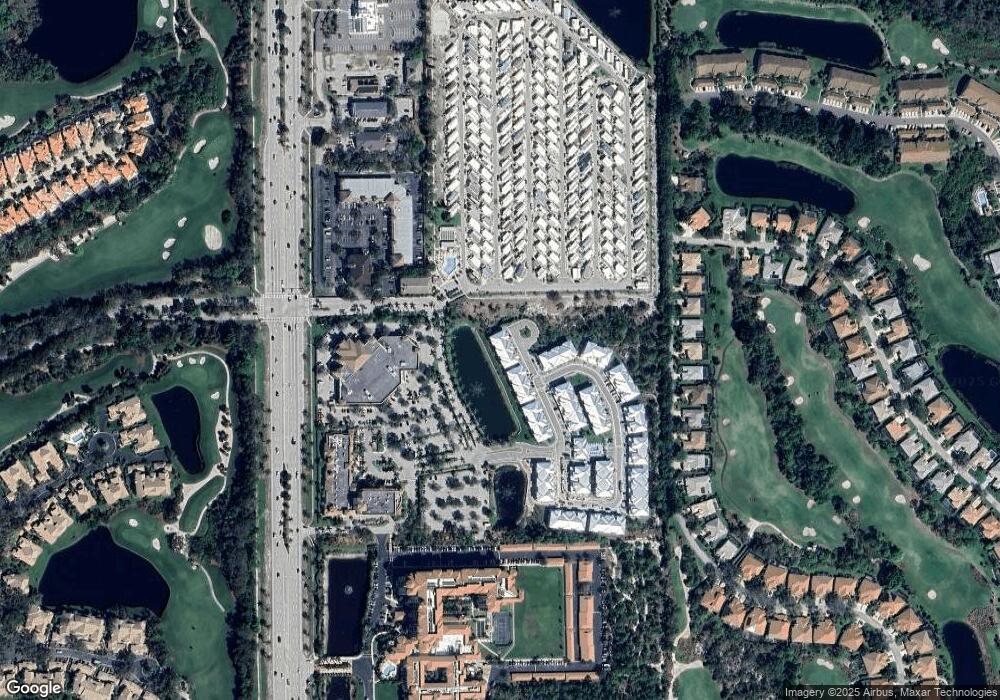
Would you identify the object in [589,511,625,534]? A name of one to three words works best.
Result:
building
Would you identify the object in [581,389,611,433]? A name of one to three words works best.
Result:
building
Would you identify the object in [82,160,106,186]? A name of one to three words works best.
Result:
house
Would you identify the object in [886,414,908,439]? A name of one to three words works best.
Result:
house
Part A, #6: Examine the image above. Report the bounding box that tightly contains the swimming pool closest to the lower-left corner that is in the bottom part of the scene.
[66,428,88,444]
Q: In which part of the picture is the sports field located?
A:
bottom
